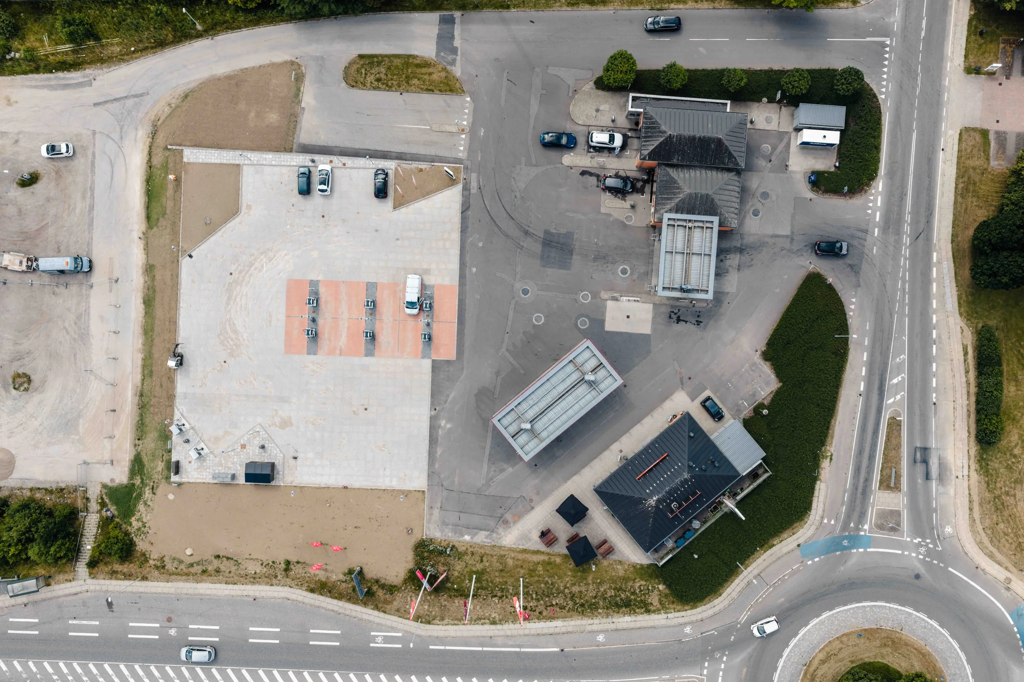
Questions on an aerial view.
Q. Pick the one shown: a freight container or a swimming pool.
freight container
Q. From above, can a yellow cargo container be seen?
No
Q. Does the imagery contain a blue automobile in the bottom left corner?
No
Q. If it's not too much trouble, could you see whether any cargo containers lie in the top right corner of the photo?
Yes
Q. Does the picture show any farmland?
No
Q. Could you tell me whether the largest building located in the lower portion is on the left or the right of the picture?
right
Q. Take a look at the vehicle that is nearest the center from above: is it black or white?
white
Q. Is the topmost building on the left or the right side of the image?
right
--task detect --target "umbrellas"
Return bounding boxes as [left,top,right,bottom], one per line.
[566,536,598,567]
[556,494,589,527]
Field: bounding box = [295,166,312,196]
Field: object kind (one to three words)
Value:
car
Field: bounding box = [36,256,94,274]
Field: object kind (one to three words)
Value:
vehicle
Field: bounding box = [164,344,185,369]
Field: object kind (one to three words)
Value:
work vehicle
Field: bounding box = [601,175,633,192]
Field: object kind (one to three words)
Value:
car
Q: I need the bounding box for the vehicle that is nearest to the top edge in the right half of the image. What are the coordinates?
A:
[644,13,681,32]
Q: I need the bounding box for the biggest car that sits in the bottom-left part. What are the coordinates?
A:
[181,646,215,664]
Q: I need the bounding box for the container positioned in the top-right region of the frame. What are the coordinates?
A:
[792,102,846,131]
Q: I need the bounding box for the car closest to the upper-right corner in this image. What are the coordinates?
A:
[814,239,848,257]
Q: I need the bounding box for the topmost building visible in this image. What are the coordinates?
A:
[626,93,748,168]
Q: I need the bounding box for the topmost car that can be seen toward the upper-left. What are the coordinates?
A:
[40,140,74,158]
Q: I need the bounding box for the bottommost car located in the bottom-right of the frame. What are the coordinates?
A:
[751,616,780,638]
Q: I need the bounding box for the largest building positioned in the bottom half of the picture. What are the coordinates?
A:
[593,411,741,554]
